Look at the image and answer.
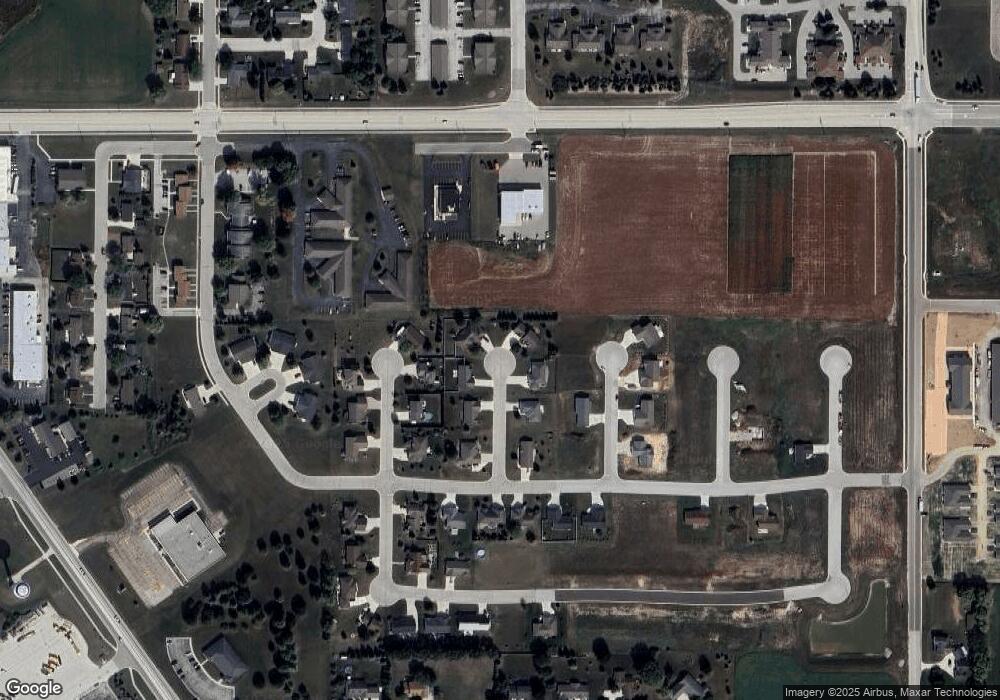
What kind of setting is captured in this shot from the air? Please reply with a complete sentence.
It's a residential area.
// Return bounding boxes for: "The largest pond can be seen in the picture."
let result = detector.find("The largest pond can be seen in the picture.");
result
[811,580,887,654]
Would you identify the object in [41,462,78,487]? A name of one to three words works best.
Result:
shed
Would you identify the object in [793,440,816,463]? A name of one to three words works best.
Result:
house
